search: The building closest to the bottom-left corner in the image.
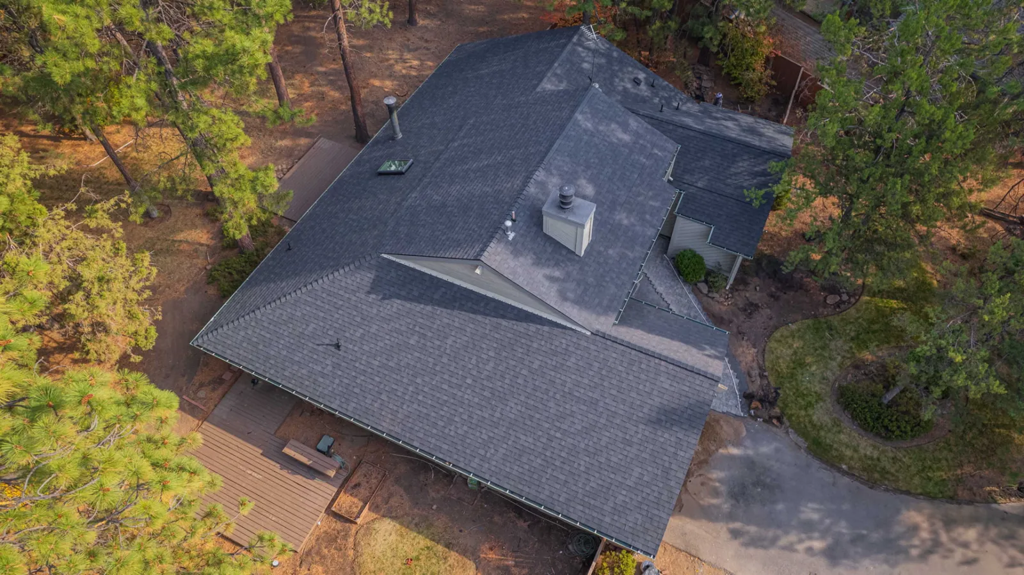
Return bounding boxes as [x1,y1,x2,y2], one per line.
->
[188,21,796,563]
